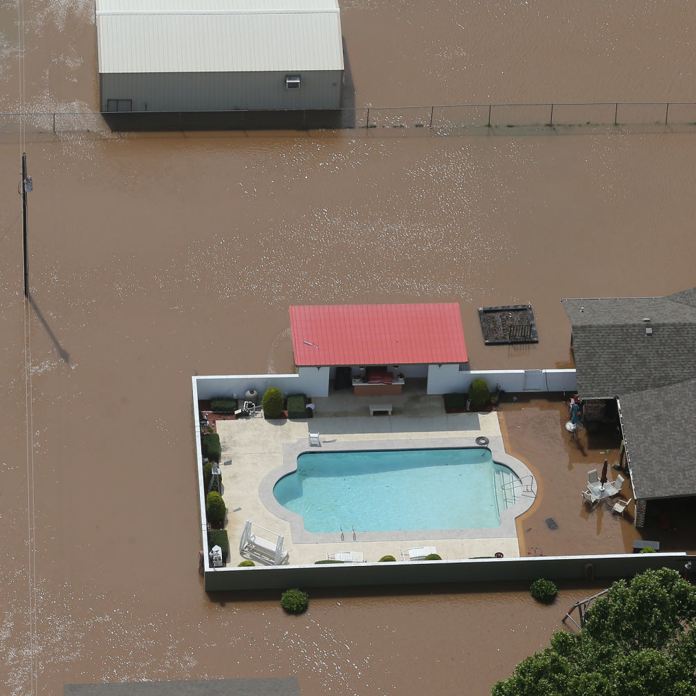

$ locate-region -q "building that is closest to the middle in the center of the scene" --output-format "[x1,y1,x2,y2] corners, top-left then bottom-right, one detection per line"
[290,303,469,396]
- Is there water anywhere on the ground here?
Yes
